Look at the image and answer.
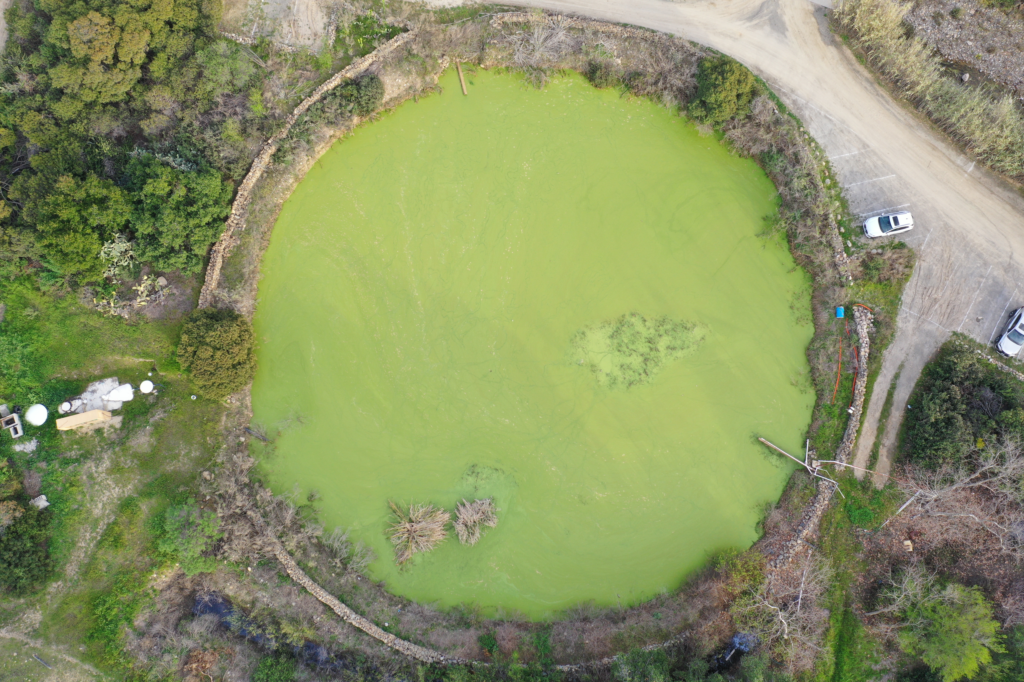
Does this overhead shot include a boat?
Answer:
No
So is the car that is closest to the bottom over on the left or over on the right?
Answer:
right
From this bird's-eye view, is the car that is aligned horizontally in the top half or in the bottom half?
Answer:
top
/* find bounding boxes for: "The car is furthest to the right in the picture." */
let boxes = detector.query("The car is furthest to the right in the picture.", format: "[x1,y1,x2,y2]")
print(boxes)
[996,305,1024,356]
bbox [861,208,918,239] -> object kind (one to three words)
car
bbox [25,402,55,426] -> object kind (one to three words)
water tank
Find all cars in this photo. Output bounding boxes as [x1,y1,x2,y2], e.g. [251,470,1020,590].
[996,305,1024,356]
[861,208,918,239]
